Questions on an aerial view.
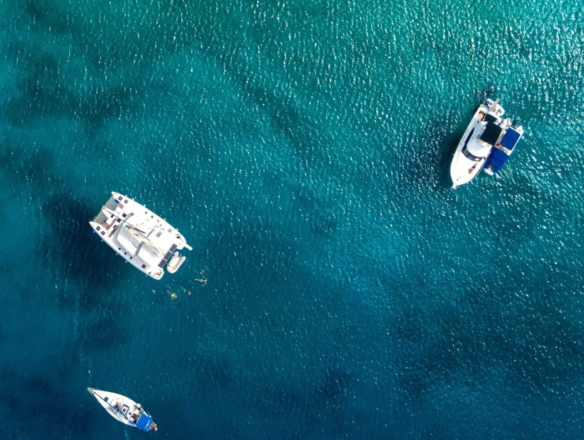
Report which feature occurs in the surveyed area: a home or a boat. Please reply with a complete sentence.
Looking from above, you can make out a boat.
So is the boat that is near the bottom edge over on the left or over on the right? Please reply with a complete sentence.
You can find the boat that is near the bottom edge on the left side of the picture.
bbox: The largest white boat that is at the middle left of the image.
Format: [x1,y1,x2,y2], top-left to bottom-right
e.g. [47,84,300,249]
[89,191,192,280]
